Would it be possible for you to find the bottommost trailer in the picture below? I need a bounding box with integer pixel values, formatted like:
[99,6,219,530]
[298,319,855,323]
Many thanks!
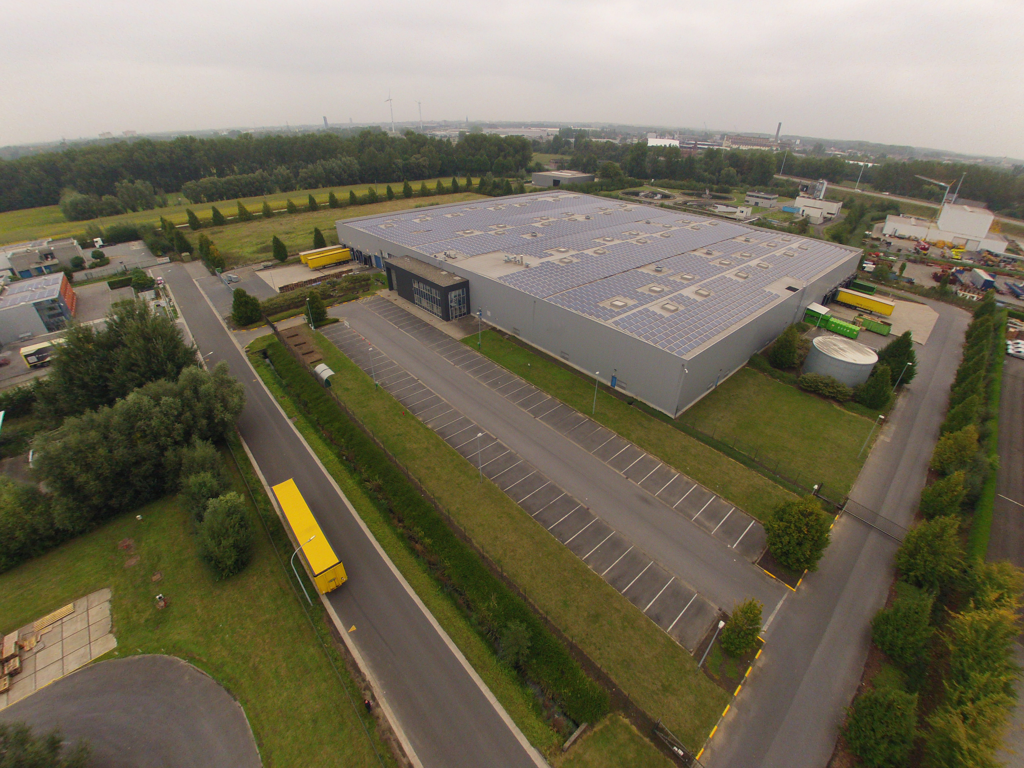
[264,476,349,597]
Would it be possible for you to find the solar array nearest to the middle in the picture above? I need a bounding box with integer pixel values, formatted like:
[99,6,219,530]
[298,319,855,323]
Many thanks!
[348,193,852,358]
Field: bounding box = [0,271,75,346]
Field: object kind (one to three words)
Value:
building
